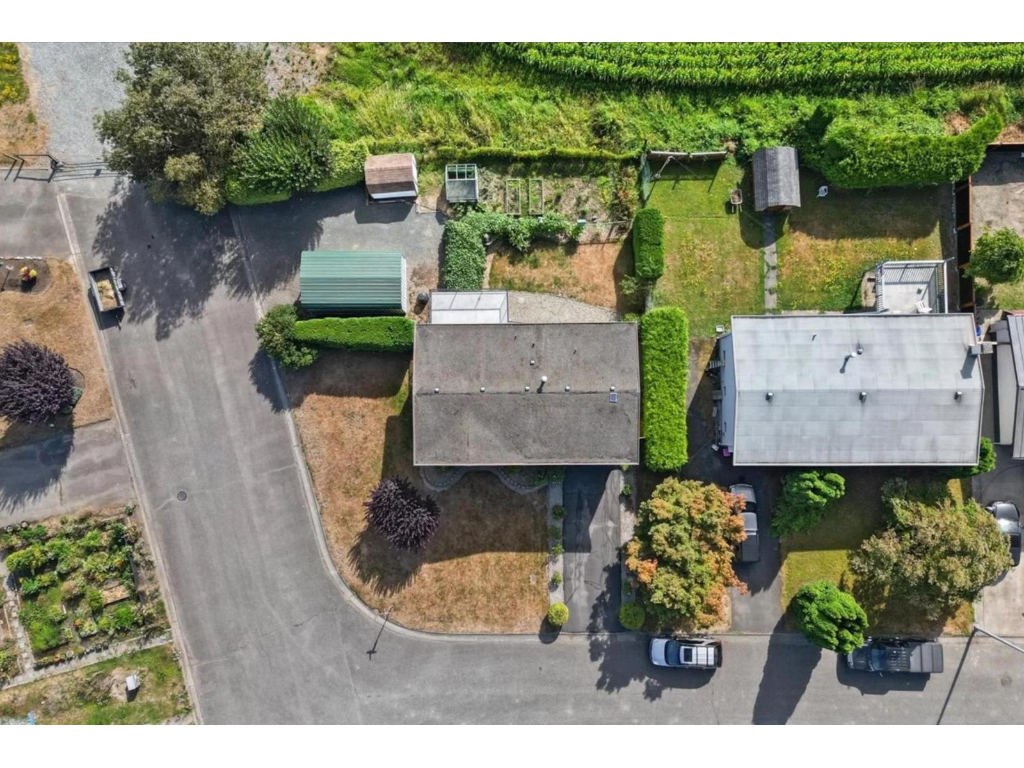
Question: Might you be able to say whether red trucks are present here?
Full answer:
No, there appears to be no red truck in this shot.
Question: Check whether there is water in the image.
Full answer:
No, the picture contains no water.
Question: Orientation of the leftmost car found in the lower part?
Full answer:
The leftmost car found in the lower part is laid out horizontally.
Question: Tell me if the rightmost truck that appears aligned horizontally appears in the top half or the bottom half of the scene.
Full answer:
It is in the bottom half that the rightmost truck that appears aligned horizontally appears.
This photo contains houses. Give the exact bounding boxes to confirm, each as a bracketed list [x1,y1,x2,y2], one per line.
[412,321,644,467]
[992,306,1024,459]
[719,312,987,467]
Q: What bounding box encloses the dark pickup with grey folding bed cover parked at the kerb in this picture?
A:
[843,639,943,677]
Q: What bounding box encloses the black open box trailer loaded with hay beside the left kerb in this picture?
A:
[89,266,129,328]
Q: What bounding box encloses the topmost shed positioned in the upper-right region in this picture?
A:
[746,146,796,215]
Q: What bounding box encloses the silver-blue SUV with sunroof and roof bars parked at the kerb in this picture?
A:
[648,635,722,670]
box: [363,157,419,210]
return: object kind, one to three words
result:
shed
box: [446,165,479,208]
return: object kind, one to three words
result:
greenhouse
